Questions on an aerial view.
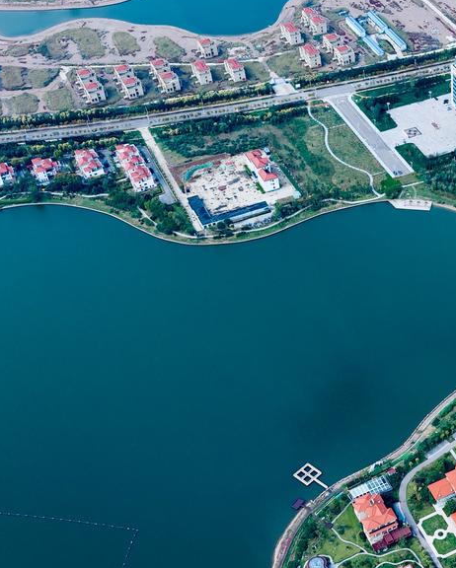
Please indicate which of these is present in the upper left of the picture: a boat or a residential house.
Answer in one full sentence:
What appears in the upper left of the picture is a residential house.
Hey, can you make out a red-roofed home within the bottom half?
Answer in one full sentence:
Yes, within the bottom half there is a red-roofed home.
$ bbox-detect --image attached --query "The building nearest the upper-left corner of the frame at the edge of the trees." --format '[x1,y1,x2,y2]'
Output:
[78,66,107,102]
